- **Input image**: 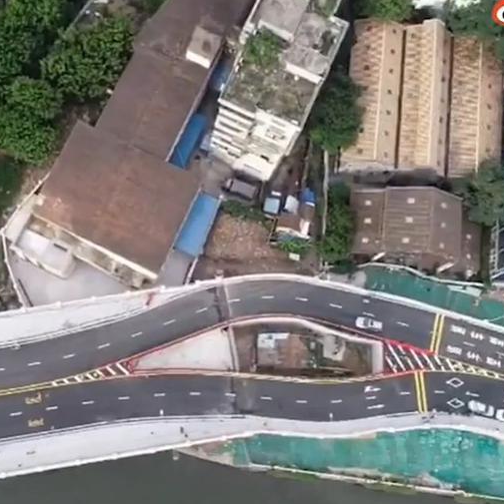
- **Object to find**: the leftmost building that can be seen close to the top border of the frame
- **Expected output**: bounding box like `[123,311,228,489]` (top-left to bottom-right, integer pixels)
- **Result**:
[94,0,260,172]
